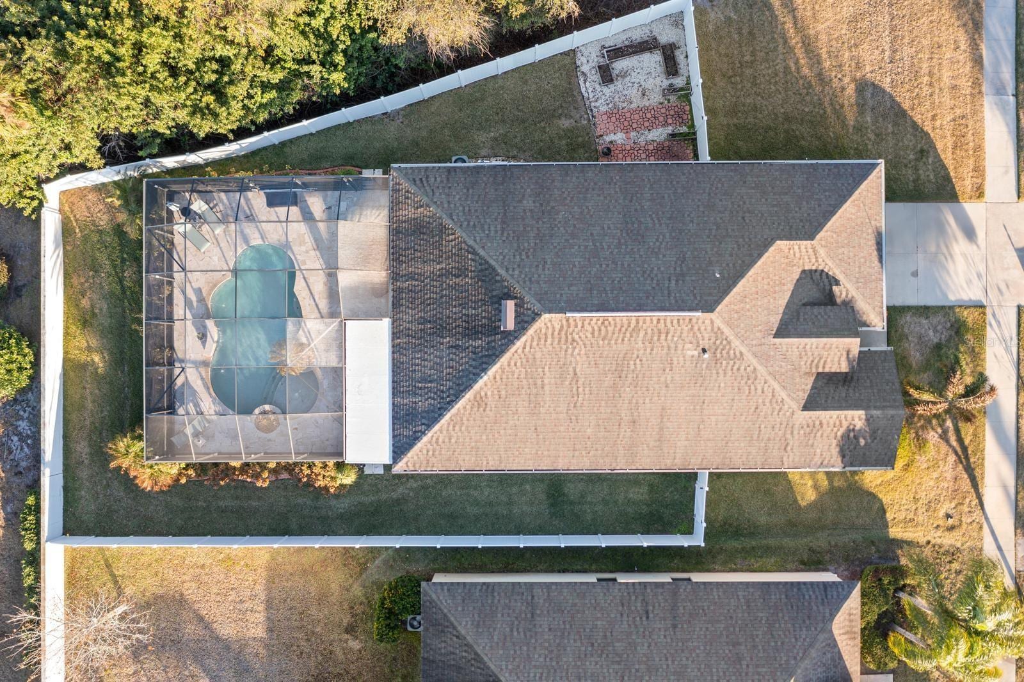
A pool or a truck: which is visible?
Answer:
pool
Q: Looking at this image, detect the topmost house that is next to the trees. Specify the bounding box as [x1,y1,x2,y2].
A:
[387,157,908,476]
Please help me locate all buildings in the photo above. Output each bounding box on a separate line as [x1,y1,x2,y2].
[420,573,863,682]
[387,157,908,476]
